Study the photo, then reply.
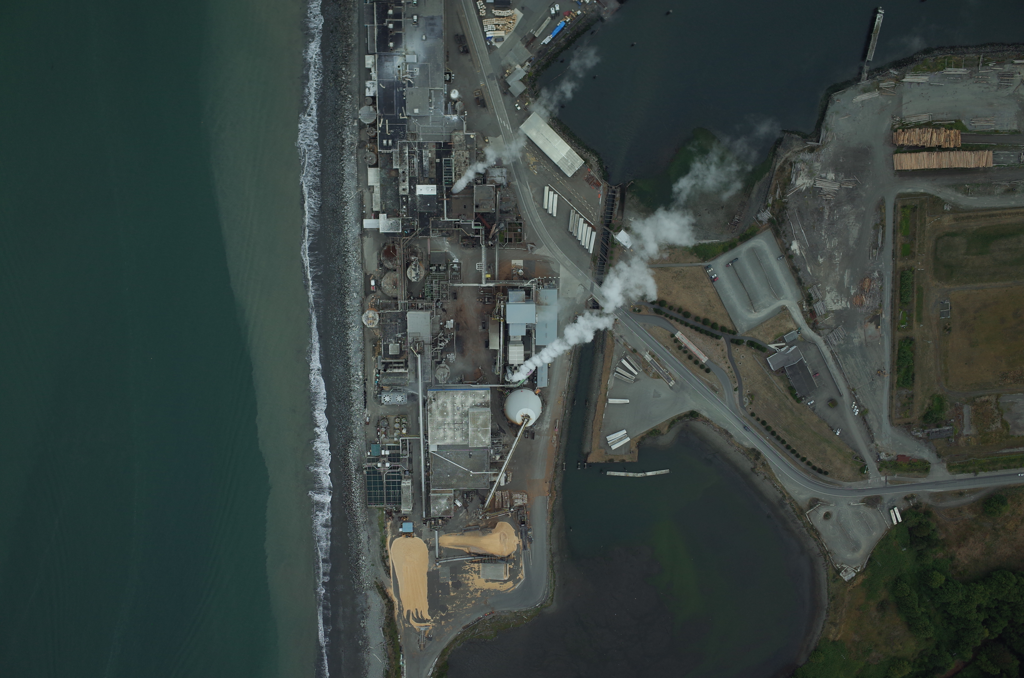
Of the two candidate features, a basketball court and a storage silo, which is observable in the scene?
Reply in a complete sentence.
It is a storage silo that can be seen here.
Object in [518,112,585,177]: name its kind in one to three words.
building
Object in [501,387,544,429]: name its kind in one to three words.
silo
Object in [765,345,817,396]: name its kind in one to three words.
building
